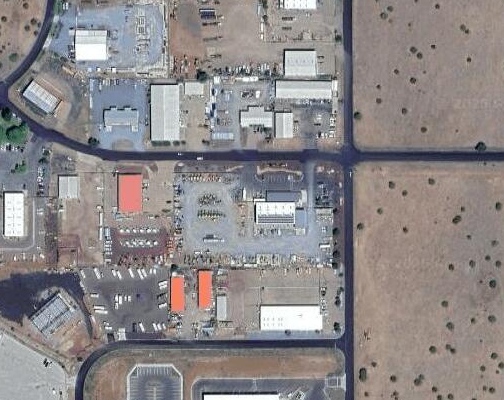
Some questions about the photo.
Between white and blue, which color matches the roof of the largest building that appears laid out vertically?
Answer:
white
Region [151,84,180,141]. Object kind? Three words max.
building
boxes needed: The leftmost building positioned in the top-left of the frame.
[22,79,61,114]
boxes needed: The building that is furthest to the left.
[4,192,23,236]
